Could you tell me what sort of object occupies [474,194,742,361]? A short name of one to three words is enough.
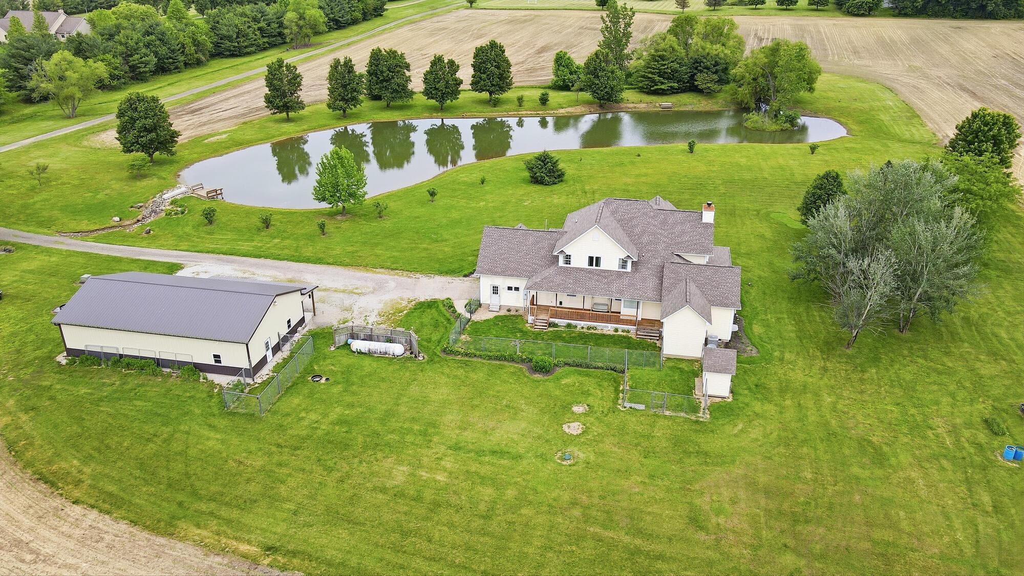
house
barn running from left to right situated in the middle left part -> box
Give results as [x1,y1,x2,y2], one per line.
[50,272,318,378]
